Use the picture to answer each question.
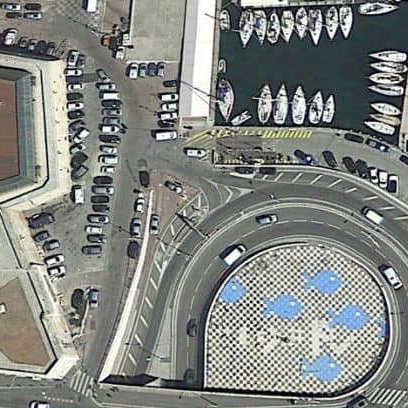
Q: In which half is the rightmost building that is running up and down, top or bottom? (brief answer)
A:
top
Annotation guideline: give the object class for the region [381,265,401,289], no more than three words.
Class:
vehicle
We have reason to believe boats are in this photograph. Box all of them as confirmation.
[211,79,233,122]
[371,62,408,73]
[289,86,307,124]
[360,2,398,15]
[370,50,407,62]
[235,9,254,47]
[368,84,405,96]
[294,7,309,39]
[254,84,273,124]
[270,83,288,124]
[364,122,396,133]
[306,10,322,45]
[369,73,404,84]
[371,103,403,116]
[233,110,252,124]
[309,90,324,124]
[337,7,352,39]
[322,95,336,122]
[279,10,294,42]
[268,8,281,44]
[252,10,268,46]
[324,7,339,39]
[371,113,401,124]
[220,7,231,31]
[219,60,226,75]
